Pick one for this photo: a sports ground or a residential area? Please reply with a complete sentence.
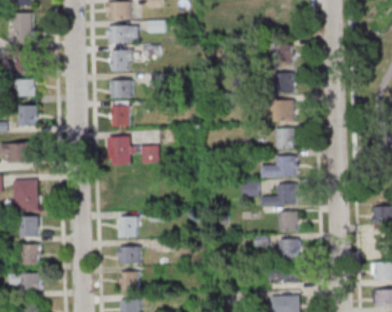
This looks like a residential area.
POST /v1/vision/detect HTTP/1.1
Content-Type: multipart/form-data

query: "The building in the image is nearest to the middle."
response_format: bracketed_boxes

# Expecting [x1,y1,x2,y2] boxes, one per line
[142,145,160,164]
